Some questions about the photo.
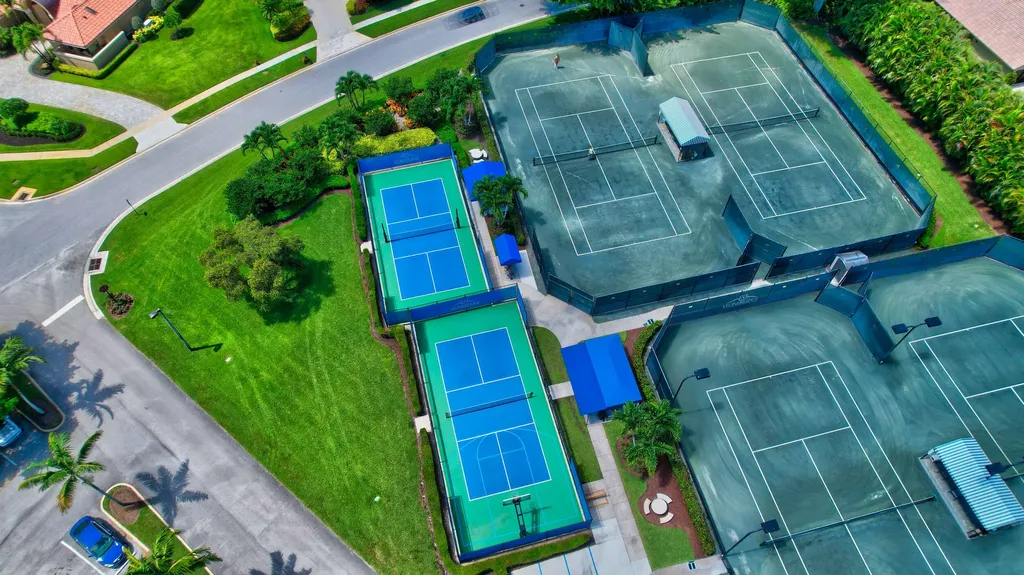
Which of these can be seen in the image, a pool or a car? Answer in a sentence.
The one in the frame is a car.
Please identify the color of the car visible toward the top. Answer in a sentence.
From above, the car visible toward the top appears blue.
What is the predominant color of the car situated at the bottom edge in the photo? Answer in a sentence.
The car situated at the bottom edge looks blue in the image.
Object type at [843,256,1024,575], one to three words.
tennis court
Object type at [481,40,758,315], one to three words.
tennis court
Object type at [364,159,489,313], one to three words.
sports court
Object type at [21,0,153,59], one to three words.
house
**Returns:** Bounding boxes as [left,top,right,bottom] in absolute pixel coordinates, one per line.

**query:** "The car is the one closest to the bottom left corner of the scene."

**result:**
[68,514,125,571]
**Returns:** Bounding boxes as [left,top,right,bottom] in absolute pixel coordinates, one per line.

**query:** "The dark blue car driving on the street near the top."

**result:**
[453,6,490,28]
